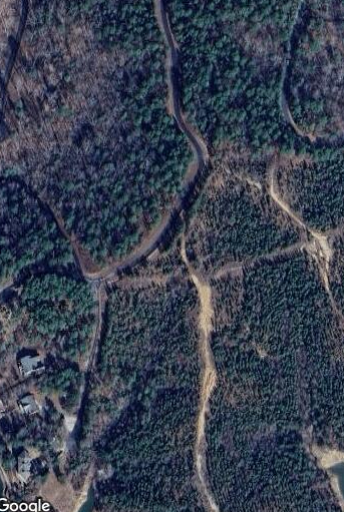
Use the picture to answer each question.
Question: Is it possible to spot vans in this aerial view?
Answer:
No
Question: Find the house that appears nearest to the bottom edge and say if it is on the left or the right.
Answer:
left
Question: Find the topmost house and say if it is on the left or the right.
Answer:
left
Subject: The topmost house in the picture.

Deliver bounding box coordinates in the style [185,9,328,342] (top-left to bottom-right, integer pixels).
[17,353,43,379]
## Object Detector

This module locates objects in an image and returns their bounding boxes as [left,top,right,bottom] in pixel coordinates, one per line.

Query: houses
[14,456,34,485]
[18,395,38,416]
[17,353,43,379]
